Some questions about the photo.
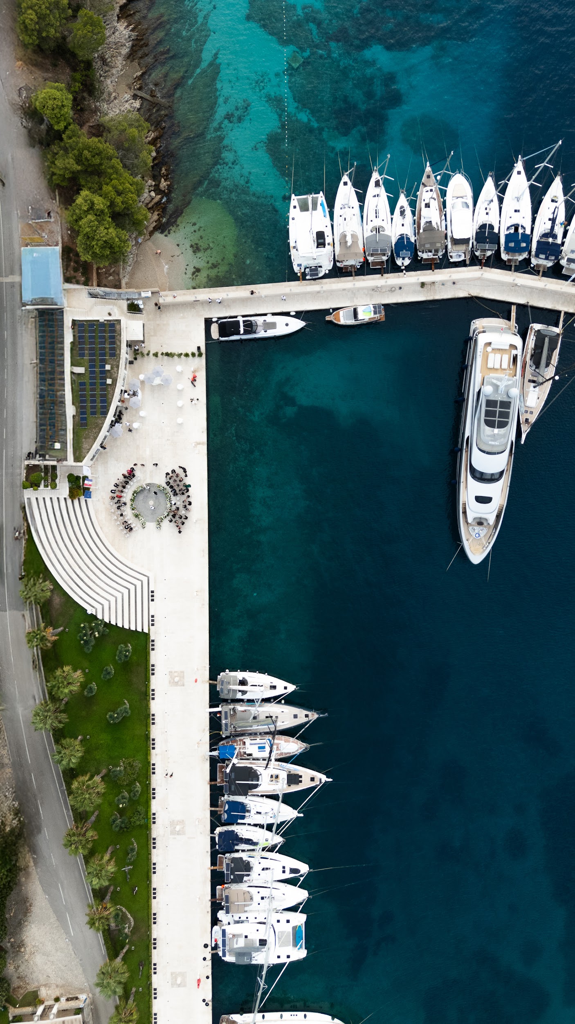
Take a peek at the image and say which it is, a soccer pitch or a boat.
boat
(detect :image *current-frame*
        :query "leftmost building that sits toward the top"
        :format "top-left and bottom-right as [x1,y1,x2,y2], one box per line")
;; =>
[21,247,69,311]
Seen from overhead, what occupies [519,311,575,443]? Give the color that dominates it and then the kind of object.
white boat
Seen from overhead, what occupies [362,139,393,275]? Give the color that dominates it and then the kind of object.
white boat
